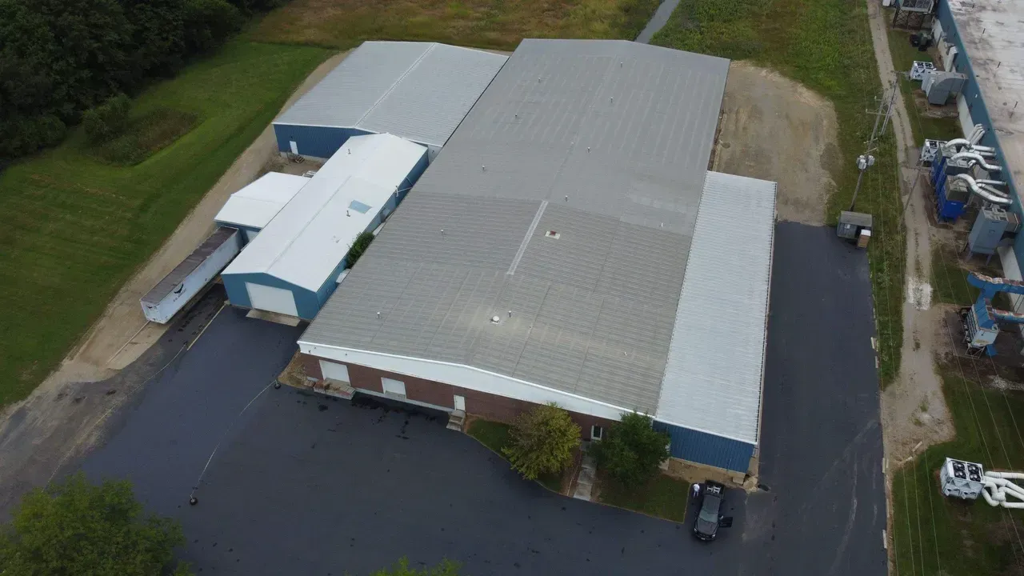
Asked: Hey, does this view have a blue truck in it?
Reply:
No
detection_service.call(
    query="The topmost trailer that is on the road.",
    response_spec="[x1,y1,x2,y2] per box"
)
[140,225,243,326]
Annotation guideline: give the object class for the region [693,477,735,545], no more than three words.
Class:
truck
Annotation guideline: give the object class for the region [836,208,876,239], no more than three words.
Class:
shed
